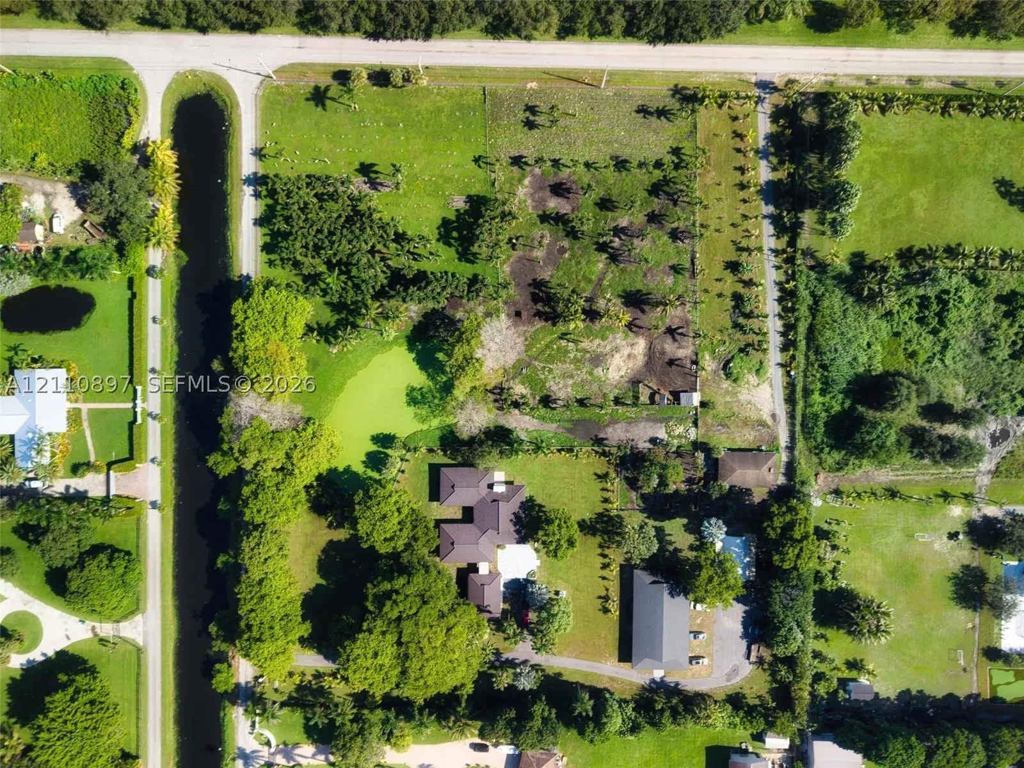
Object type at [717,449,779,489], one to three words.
house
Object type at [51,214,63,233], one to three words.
vehicle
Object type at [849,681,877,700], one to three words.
shed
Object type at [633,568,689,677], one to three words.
barn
